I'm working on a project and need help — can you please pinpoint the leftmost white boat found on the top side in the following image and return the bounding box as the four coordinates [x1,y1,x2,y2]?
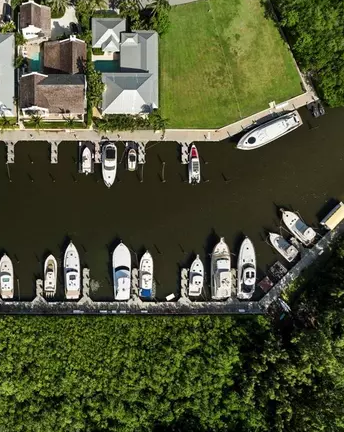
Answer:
[77,147,96,179]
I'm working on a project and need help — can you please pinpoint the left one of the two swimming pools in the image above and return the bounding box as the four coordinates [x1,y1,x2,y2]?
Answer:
[30,52,44,70]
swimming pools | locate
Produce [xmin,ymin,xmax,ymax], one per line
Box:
[92,60,120,73]
[30,52,44,70]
